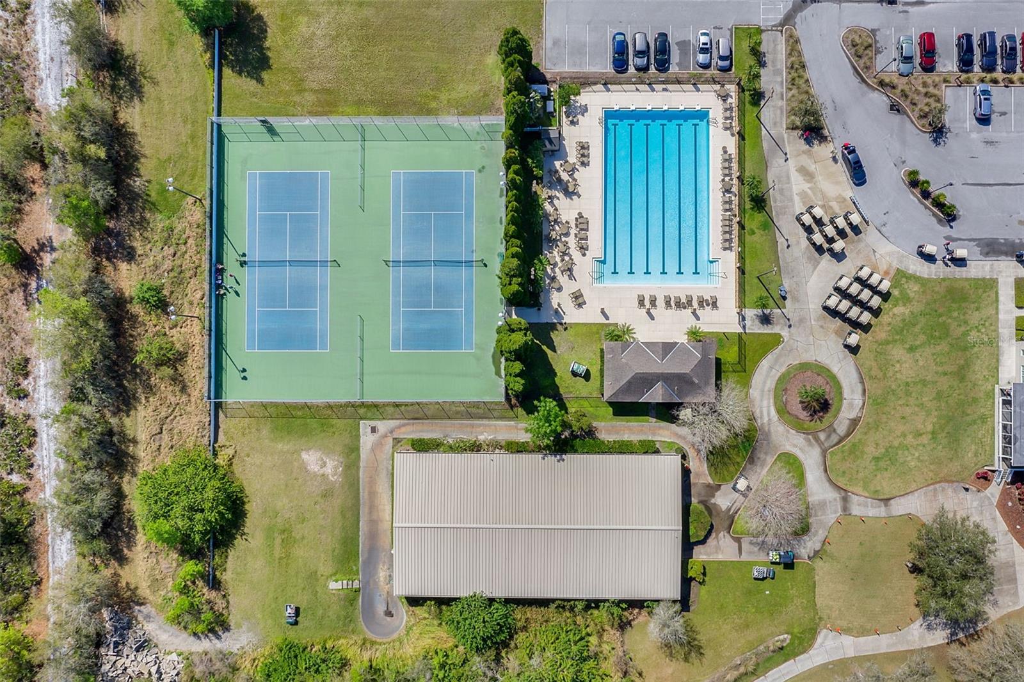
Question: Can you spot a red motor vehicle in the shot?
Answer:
Yes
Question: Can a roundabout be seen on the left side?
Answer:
No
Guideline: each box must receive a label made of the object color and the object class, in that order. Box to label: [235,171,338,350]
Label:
blue tennis court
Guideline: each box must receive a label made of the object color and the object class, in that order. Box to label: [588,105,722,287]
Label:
blue swimming pool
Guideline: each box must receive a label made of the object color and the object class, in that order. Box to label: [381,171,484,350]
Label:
blue tennis court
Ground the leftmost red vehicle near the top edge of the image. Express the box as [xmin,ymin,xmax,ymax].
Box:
[917,34,936,68]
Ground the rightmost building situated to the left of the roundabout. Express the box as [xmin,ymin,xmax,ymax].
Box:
[604,341,716,402]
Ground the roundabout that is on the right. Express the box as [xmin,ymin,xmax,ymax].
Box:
[773,362,844,432]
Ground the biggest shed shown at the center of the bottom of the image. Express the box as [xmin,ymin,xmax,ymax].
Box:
[393,452,683,601]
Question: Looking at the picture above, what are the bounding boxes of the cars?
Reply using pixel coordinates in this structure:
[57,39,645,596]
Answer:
[972,83,993,120]
[695,31,713,69]
[895,38,913,75]
[653,34,671,72]
[954,34,974,72]
[840,144,864,183]
[612,34,629,72]
[977,33,998,70]
[917,34,936,68]
[632,34,650,71]
[998,35,1018,73]
[715,37,733,73]
[1018,33,1024,70]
